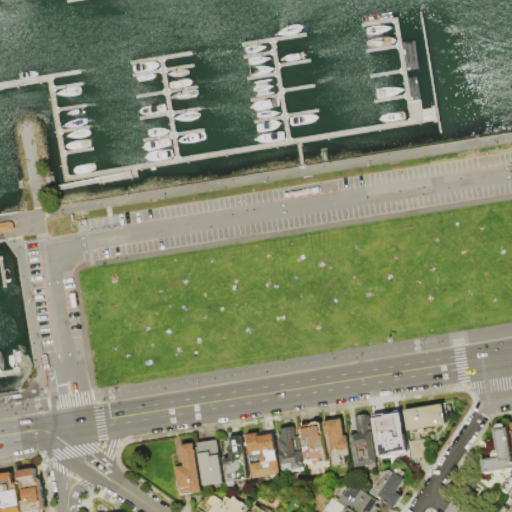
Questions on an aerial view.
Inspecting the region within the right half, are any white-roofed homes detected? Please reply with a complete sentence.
Yes, a white-roofed home is visible within the right half.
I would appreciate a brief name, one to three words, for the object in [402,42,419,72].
ship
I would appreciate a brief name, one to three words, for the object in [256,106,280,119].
boat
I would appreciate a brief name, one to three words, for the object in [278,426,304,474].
house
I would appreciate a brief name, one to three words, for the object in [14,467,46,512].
building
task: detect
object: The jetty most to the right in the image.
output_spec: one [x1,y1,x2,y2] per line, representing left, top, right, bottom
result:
[420,8,442,134]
